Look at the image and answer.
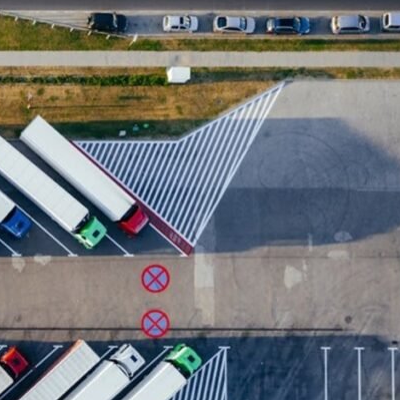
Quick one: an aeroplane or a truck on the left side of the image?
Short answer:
truck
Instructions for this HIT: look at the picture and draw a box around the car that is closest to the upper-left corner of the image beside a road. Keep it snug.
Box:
[87,10,125,32]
